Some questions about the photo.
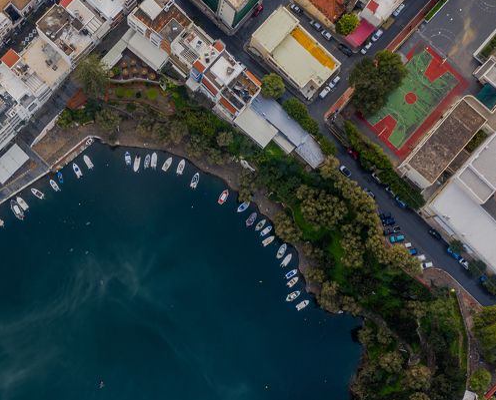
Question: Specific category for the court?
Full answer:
The court can be classified as a basketball court.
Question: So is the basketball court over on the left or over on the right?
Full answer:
It is on the right.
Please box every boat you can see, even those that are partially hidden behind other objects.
[31,188,46,200]
[11,200,26,221]
[246,212,257,227]
[84,155,95,170]
[295,300,310,312]
[190,173,200,189]
[177,159,186,176]
[284,269,298,280]
[218,189,228,205]
[18,196,31,212]
[285,277,299,289]
[260,226,271,237]
[236,202,249,213]
[52,180,62,192]
[151,152,158,170]
[73,164,83,179]
[263,236,274,244]
[279,254,292,268]
[161,157,172,173]
[275,244,287,260]
[145,154,151,170]
[134,154,142,172]
[255,220,266,231]
[285,291,301,303]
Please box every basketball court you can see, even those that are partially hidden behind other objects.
[354,42,469,158]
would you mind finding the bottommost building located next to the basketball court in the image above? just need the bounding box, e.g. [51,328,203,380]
[418,179,496,277]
